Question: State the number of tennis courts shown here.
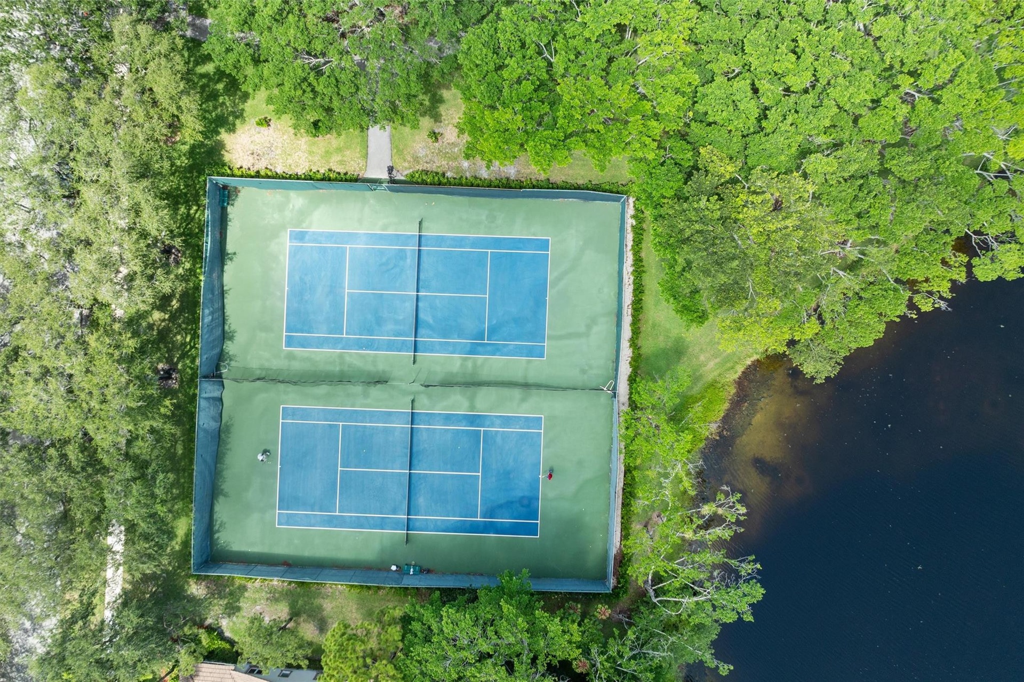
two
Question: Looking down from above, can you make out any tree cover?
Yes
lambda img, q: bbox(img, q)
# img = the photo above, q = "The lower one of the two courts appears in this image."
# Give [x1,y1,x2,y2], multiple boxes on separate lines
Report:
[211,376,611,578]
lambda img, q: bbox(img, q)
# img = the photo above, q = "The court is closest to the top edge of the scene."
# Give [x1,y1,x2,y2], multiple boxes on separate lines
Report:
[219,178,619,389]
